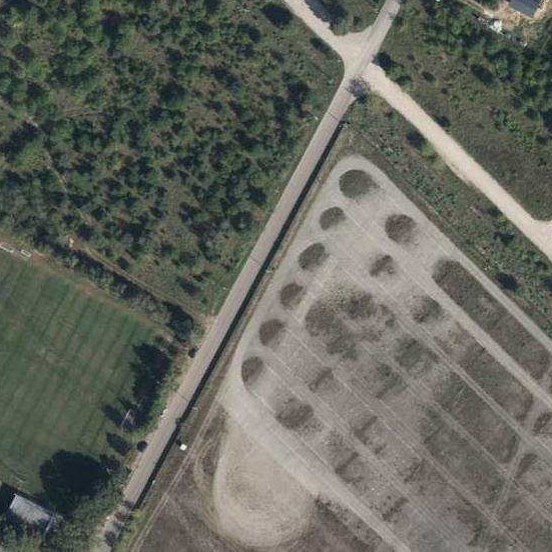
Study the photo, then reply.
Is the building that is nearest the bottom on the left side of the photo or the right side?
left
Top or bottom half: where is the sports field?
bottom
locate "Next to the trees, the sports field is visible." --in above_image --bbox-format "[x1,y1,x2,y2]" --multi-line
[0,239,164,508]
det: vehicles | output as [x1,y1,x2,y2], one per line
[139,441,147,451]
[188,346,197,357]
